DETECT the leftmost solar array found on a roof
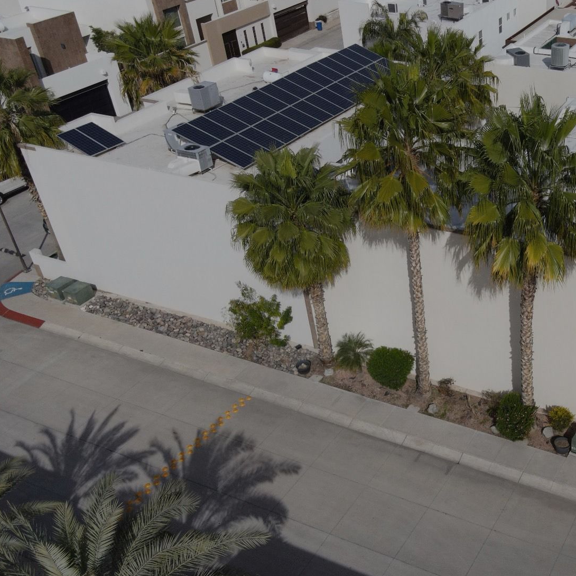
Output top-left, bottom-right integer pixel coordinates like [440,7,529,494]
[58,123,125,158]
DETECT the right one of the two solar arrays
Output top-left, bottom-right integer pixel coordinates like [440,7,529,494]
[174,45,388,167]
